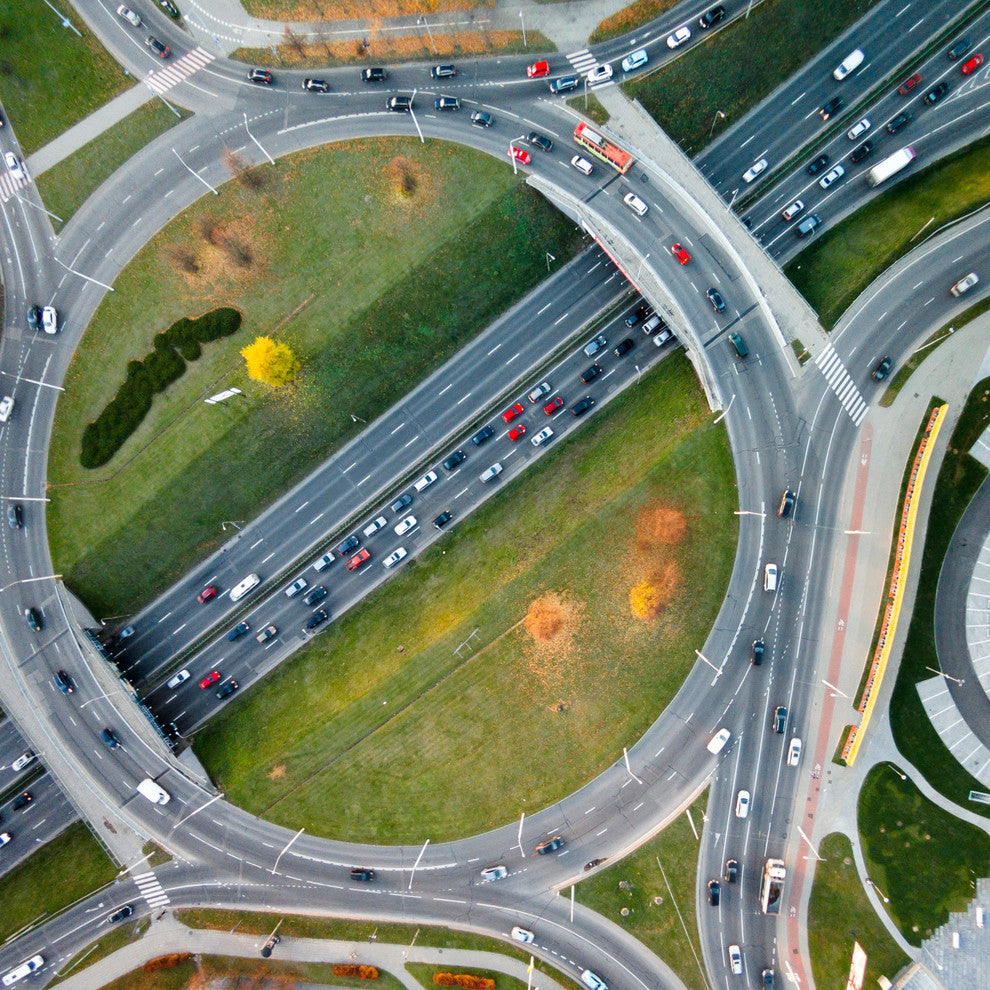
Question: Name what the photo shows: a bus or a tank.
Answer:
bus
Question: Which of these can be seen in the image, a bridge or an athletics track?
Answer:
bridge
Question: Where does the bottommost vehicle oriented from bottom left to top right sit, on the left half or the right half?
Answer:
left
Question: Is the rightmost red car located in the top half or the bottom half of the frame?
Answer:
top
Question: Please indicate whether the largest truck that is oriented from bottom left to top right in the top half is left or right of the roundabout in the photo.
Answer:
on the right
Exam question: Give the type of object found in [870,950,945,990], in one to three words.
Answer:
building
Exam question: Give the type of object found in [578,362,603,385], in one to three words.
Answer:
car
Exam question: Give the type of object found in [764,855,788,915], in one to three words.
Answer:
truck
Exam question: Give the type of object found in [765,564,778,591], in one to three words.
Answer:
vehicle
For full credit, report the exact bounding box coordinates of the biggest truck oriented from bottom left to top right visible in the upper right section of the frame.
[865,148,916,189]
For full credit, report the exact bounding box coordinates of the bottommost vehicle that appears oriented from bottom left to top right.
[0,951,47,989]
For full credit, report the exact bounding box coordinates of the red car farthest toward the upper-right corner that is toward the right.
[959,52,985,75]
